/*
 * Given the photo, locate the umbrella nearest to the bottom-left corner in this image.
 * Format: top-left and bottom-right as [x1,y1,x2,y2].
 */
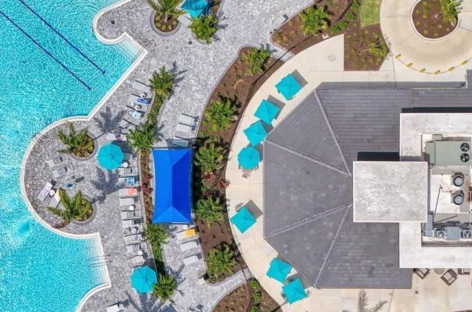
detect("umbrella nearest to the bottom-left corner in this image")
[130,266,157,293]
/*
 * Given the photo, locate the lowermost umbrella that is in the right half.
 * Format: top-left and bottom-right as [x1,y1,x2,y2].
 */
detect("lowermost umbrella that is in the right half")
[281,277,306,304]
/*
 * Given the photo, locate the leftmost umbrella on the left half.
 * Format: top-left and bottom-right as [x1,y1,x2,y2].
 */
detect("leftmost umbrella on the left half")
[98,143,124,171]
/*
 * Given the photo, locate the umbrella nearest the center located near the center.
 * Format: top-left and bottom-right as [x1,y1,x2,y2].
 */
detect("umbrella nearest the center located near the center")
[238,146,260,169]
